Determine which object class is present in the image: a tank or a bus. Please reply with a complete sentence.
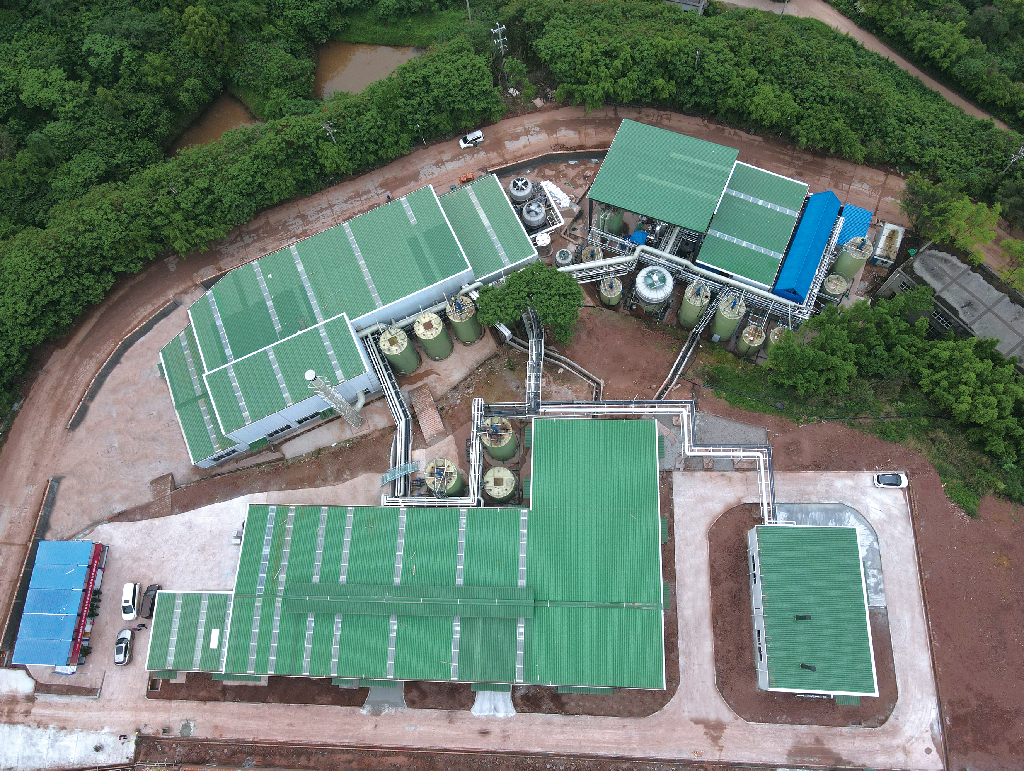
Visible in the photo is a tank.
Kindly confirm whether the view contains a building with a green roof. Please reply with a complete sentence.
Yes, the frame does contain a building with a green roof.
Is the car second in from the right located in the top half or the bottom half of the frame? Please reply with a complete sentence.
You can find the car second in from the right in the top half.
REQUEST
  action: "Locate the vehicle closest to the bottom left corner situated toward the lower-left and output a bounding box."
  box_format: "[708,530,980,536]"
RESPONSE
[114,629,137,668]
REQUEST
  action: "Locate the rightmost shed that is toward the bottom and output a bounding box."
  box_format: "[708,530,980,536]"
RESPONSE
[749,524,881,711]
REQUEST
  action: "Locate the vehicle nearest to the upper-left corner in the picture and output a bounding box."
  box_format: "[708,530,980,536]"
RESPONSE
[457,128,486,152]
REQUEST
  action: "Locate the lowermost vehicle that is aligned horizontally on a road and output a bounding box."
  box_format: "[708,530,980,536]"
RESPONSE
[872,473,907,490]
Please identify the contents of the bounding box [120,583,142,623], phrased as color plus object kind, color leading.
white car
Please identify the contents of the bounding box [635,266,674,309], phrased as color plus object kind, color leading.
white cooling tower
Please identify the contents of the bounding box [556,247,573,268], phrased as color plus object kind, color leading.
gray cooling tower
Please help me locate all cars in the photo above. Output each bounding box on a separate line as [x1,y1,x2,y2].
[457,128,486,152]
[872,473,907,490]
[120,583,142,623]
[114,629,137,668]
[138,584,162,622]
